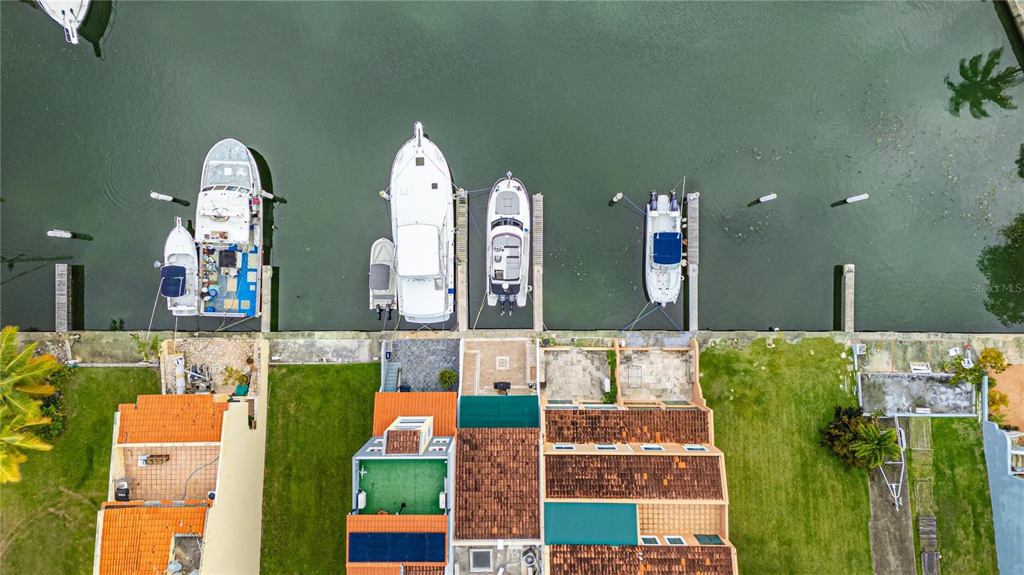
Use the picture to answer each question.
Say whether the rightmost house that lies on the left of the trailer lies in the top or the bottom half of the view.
bottom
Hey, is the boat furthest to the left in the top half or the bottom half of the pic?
top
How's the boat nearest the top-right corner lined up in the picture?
from top to bottom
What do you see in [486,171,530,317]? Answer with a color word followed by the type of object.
white boat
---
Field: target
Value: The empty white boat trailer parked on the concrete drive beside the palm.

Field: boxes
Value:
[875,416,906,513]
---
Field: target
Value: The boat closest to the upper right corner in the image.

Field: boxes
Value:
[645,177,684,306]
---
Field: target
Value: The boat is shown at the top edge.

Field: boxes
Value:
[33,0,100,45]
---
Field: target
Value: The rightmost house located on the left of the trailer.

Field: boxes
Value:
[540,349,738,575]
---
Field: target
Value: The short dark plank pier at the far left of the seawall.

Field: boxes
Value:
[55,264,81,331]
